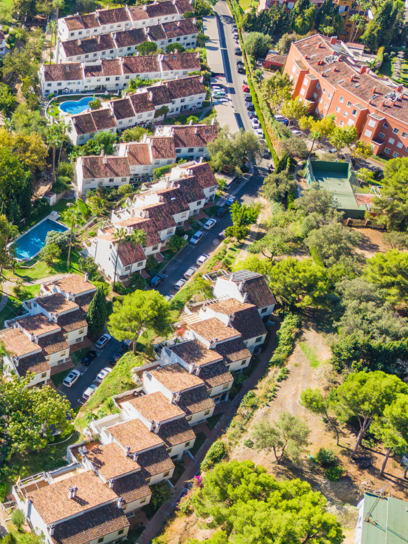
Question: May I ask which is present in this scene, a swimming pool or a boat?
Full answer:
I can see a swimming pool in this picture.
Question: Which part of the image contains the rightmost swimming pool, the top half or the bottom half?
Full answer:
You can find the rightmost swimming pool in the top half.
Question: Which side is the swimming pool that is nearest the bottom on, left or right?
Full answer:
The swimming pool that is nearest the bottom sits on the left side.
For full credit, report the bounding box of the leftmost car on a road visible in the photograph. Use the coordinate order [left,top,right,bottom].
[63,369,81,386]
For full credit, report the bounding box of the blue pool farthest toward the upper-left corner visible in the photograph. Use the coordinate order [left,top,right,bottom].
[58,95,102,115]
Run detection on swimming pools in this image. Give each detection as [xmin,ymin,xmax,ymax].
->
[58,95,102,115]
[11,216,71,260]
